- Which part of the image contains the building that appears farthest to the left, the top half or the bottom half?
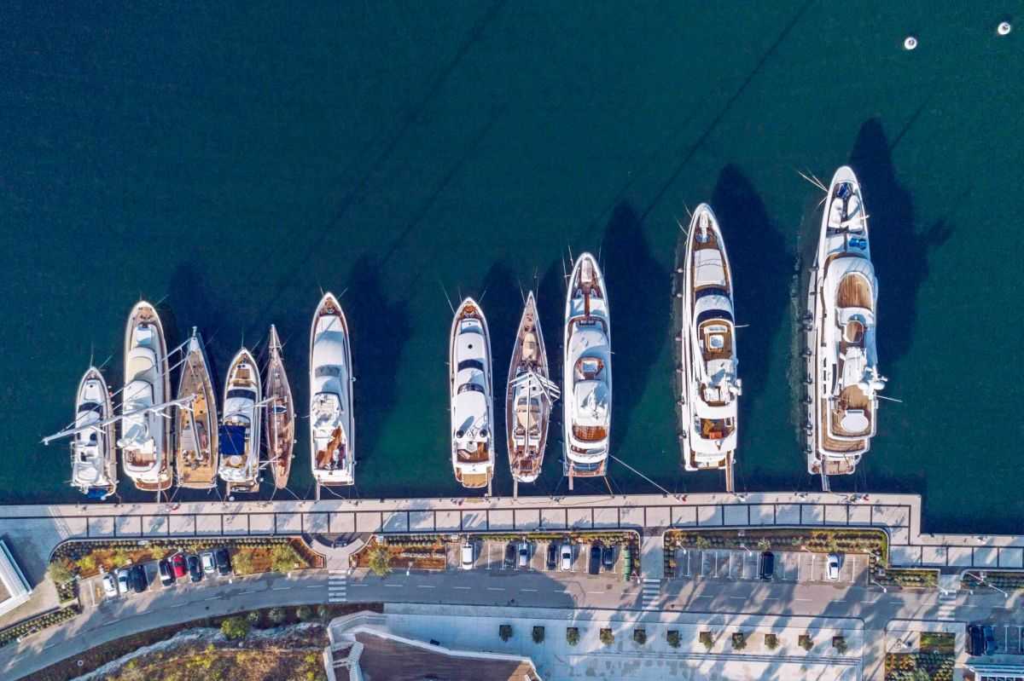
bottom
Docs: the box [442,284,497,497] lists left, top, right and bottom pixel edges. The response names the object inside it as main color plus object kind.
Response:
white boat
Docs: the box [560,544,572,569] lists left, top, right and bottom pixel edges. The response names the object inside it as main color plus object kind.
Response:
white vehicle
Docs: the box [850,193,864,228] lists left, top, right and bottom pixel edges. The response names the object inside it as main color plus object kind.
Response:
white boat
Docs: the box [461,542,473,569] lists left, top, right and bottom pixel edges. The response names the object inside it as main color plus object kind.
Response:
white vehicle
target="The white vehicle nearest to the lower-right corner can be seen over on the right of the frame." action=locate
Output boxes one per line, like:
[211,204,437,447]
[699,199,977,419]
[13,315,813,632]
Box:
[825,554,839,578]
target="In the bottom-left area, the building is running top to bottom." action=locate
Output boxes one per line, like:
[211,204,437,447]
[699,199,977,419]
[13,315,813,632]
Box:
[0,536,31,611]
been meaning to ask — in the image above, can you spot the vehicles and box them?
[603,544,615,568]
[545,544,557,569]
[758,551,773,580]
[160,559,176,585]
[966,625,983,654]
[103,571,119,594]
[131,563,149,592]
[218,548,232,574]
[517,542,529,565]
[118,568,132,593]
[825,554,839,578]
[588,543,602,574]
[203,551,217,573]
[189,556,203,581]
[174,554,188,578]
[461,542,473,569]
[560,544,572,569]
[505,546,516,569]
